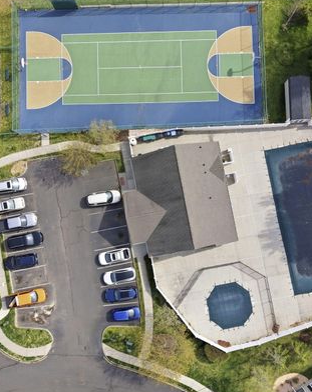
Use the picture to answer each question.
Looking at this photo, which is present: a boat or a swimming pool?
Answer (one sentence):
Of the two, only a swimming pool appears.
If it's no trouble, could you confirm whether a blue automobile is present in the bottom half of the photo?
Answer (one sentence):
Yes, there is a blue automobile in the bottom half of the photo.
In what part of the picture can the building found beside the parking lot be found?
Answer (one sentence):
Look in the center portion of the view to spot the building found beside the parking lot.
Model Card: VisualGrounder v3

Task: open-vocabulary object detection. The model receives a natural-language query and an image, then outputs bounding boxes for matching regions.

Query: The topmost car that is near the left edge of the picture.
[0,176,28,193]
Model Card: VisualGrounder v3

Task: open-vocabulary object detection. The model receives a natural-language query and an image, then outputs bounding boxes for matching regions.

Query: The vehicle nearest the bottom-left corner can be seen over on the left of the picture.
[4,289,46,307]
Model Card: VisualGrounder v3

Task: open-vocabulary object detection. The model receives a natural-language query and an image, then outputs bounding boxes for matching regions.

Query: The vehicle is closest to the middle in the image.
[88,189,121,206]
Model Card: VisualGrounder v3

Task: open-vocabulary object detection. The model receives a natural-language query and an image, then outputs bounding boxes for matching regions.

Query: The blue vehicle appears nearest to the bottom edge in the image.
[112,306,141,322]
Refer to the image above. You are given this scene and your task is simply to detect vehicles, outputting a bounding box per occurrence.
[5,231,44,249]
[0,214,39,232]
[99,249,131,265]
[0,197,26,213]
[112,306,141,322]
[4,289,46,307]
[104,268,136,285]
[0,176,28,193]
[88,189,121,206]
[6,253,38,271]
[105,287,138,304]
